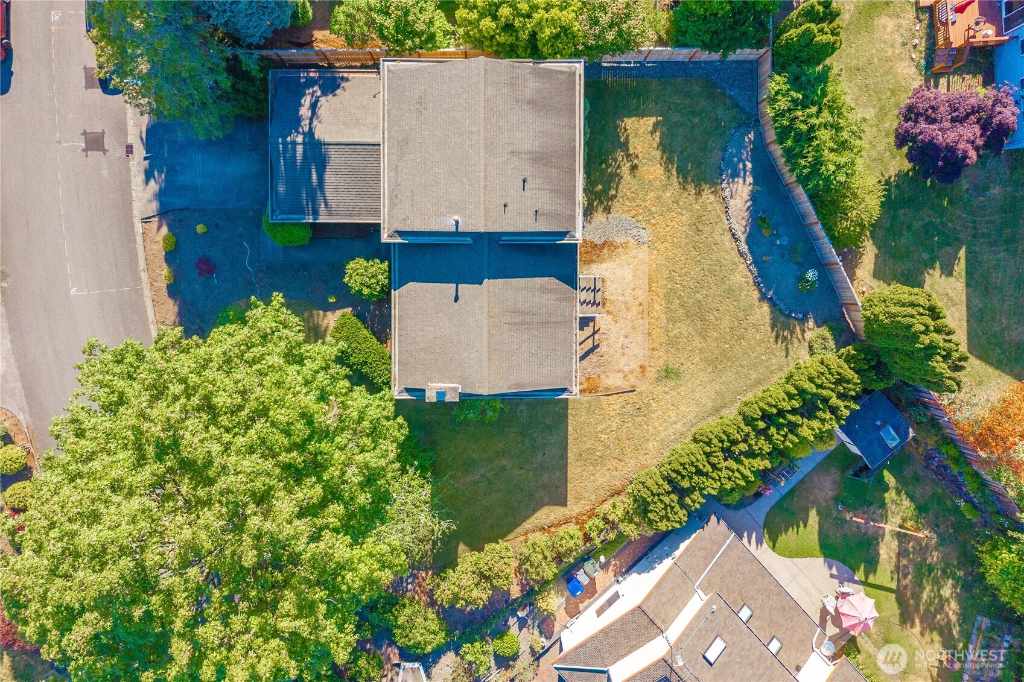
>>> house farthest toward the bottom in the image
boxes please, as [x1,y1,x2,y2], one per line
[549,510,872,682]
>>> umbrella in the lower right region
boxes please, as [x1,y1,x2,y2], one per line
[837,593,878,632]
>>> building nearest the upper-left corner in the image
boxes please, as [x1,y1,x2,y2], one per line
[269,58,585,401]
